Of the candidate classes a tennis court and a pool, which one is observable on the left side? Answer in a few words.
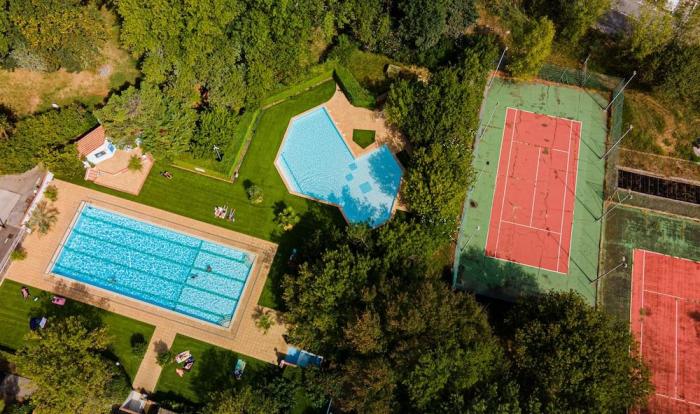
pool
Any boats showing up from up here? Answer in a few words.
No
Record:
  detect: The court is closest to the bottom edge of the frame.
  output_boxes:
[598,202,700,414]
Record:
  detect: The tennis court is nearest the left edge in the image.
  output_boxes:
[450,75,610,320]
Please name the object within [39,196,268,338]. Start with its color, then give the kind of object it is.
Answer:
blue swimming pool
